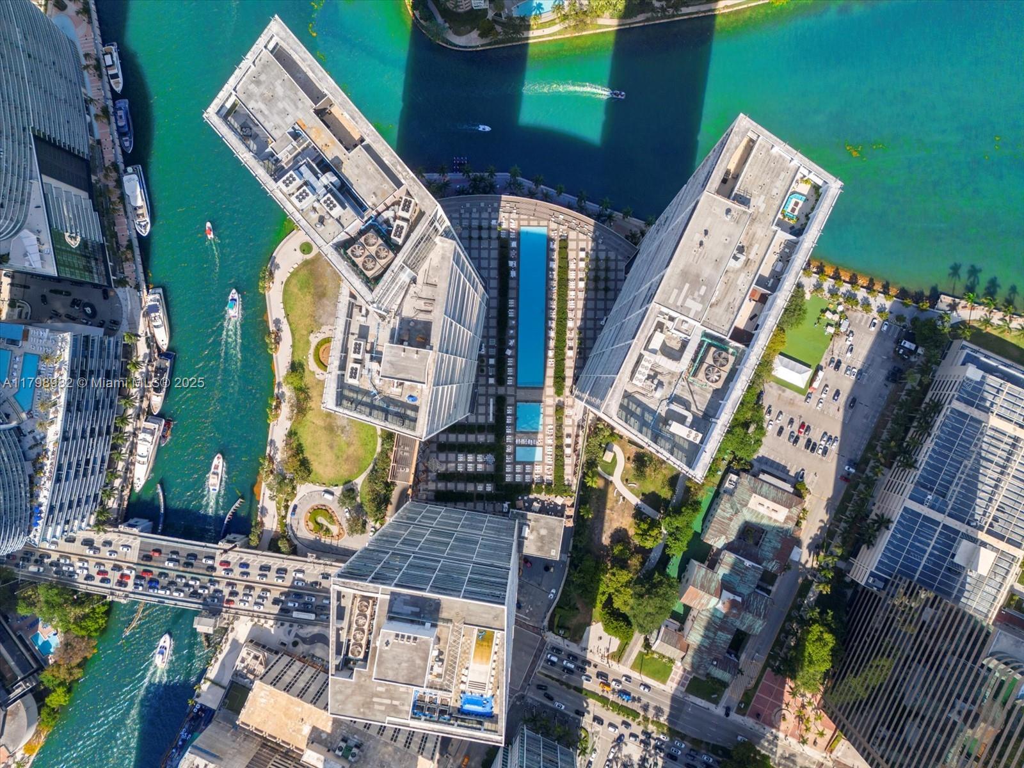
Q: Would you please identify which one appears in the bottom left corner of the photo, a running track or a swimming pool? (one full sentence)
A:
You can see a swimming pool in the bottom left corner of the photo.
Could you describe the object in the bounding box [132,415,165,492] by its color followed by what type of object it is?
white boat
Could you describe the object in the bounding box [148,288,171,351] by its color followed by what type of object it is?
white boat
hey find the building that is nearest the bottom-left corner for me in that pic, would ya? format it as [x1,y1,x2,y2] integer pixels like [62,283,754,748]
[0,686,47,756]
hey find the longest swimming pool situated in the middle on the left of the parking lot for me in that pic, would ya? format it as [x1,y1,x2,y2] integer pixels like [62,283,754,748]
[515,226,549,388]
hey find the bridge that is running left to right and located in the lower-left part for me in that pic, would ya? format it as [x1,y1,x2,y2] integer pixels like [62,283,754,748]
[3,529,339,627]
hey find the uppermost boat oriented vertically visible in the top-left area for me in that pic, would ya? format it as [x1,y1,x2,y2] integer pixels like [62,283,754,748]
[105,42,125,94]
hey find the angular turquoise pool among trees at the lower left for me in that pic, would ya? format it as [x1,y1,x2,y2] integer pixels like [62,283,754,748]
[31,630,60,656]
